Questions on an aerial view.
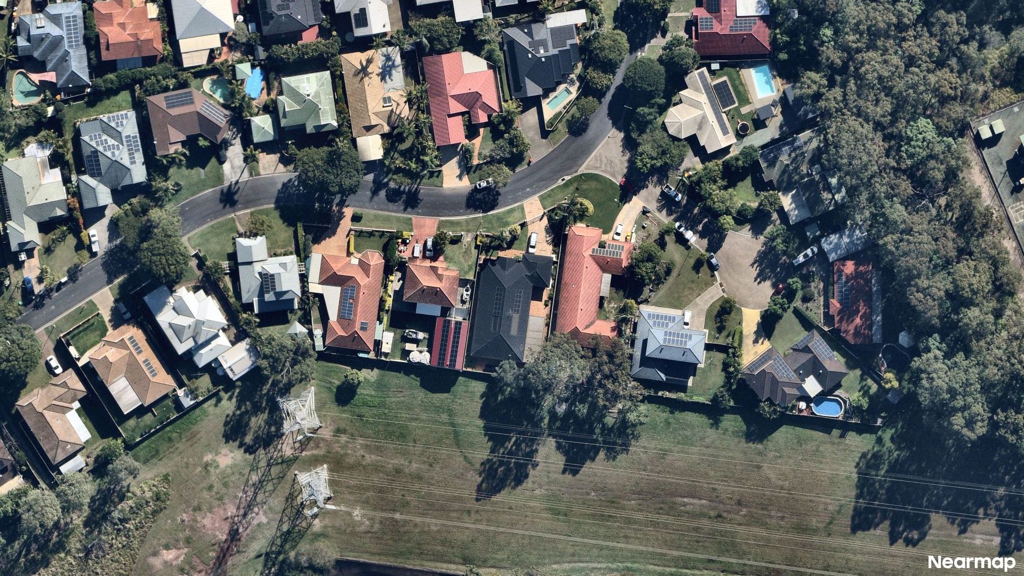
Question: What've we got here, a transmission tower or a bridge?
transmission tower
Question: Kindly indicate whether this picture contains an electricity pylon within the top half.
No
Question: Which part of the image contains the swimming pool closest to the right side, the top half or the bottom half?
bottom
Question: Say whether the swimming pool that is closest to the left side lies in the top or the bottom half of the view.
top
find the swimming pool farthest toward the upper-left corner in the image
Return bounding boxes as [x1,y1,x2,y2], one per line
[12,70,42,105]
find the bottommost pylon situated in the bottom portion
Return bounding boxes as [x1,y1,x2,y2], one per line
[294,464,334,509]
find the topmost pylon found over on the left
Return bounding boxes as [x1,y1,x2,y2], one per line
[277,387,323,436]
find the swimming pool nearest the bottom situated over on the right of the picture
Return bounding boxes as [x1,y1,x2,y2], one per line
[810,396,845,419]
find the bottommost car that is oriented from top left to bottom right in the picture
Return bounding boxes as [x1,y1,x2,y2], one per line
[46,354,63,375]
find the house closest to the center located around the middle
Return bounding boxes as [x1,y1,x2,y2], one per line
[470,254,555,361]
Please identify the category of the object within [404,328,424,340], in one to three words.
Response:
boat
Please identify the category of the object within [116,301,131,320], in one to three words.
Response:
car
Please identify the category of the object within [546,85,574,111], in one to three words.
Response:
swimming pool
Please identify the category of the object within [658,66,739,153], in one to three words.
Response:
house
